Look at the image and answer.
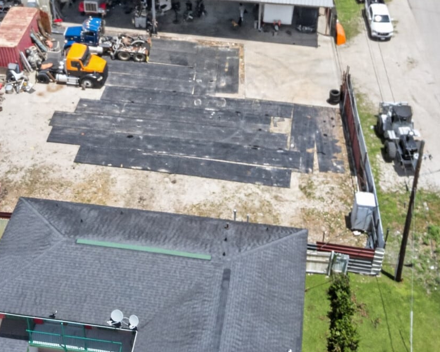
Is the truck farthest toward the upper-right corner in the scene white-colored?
Yes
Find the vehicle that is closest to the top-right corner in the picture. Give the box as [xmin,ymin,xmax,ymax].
[365,0,401,41]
